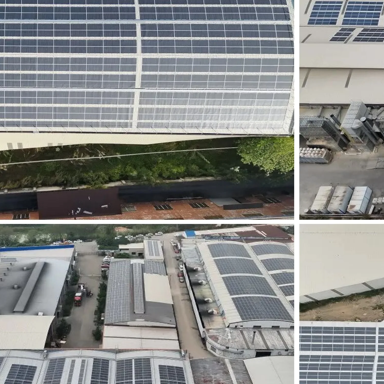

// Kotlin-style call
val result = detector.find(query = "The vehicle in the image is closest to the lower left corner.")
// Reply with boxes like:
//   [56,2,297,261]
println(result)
[73,278,101,305]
